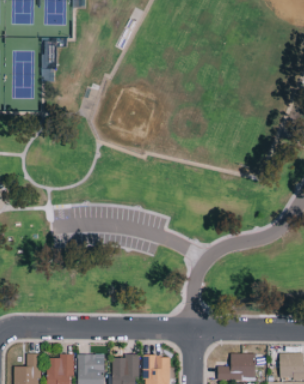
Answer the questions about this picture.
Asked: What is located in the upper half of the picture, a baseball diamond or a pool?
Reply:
baseball diamond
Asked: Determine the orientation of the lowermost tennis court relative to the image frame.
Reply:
up and down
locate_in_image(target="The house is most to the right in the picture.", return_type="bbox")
[279,354,304,382]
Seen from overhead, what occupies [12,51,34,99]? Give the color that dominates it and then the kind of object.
blue tennis court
